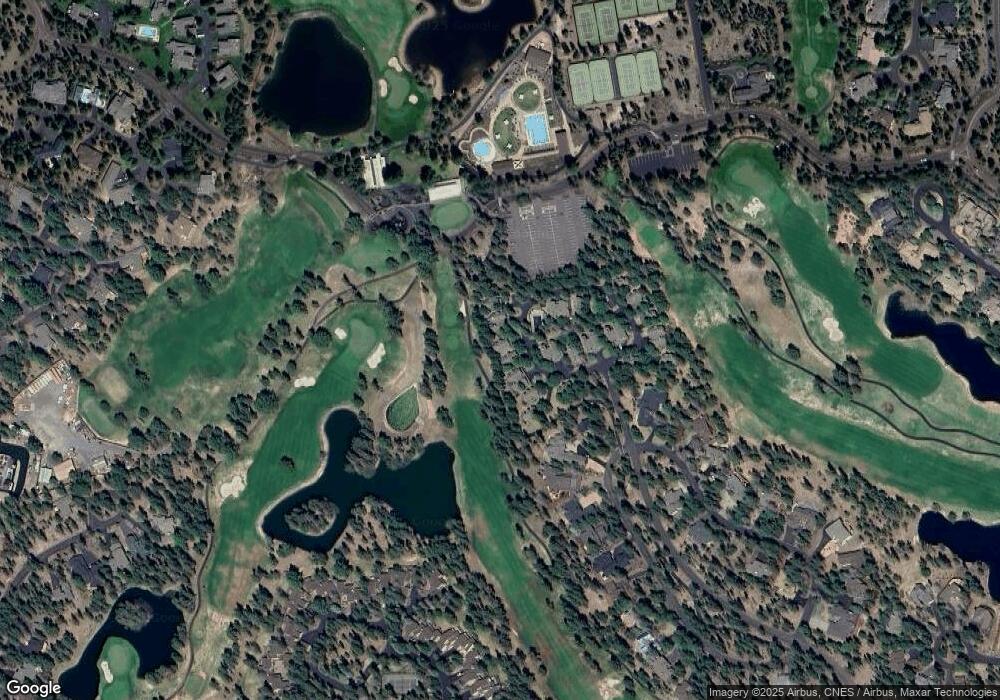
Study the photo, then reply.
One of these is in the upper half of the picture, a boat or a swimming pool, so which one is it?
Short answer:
swimming pool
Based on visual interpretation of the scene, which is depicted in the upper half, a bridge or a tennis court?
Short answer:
tennis court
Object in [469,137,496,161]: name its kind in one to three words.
swimming pool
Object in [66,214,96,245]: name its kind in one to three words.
house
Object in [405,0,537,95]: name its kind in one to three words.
pond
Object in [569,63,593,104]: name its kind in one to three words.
tennis court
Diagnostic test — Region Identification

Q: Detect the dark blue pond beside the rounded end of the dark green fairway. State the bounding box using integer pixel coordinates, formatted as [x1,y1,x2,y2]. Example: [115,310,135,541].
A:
[886,292,1000,401]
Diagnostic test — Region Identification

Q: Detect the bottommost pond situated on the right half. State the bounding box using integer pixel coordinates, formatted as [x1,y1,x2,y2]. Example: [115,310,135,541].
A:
[916,510,1000,602]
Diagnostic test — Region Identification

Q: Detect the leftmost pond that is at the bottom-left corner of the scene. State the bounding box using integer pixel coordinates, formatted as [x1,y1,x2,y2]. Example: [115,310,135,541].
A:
[58,587,185,700]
